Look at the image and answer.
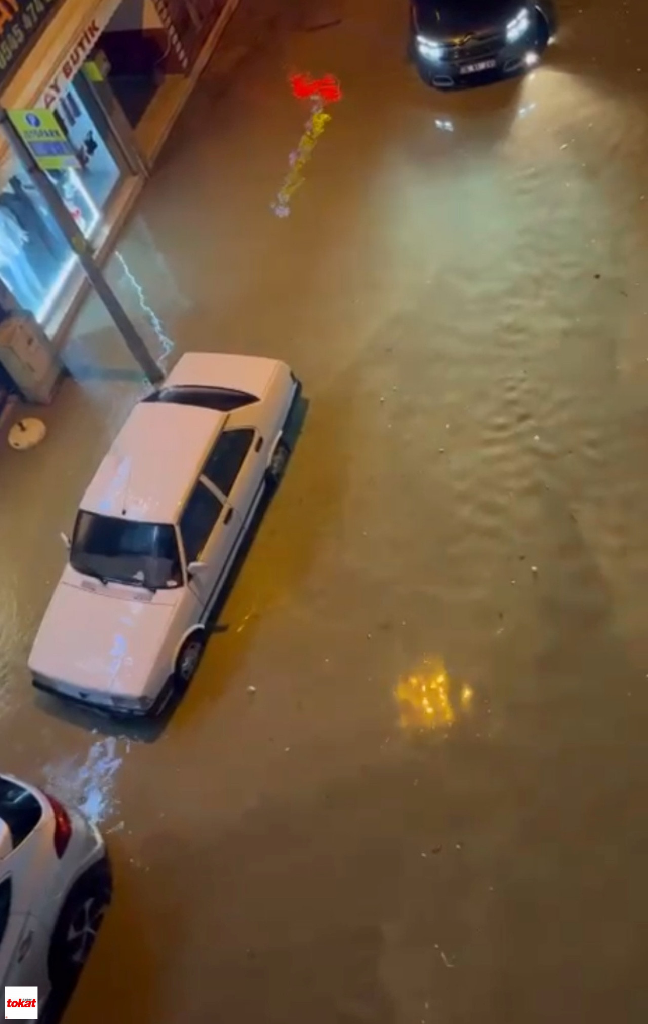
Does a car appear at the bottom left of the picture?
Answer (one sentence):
Yes, at the bottom left of the picture there is a car.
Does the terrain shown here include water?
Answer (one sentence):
Yes, the picture does contain water.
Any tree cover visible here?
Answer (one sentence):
No, the picture contains no tree cover.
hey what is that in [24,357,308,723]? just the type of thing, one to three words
car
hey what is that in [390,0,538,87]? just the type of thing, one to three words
car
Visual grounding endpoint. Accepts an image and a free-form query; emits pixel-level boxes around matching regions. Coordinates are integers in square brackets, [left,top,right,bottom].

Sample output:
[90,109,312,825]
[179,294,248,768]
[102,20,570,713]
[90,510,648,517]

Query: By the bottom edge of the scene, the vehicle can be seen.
[0,767,112,1024]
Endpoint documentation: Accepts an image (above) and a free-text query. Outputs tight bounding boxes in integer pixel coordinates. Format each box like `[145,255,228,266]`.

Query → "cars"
[0,767,112,1024]
[24,357,308,723]
[390,0,538,87]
